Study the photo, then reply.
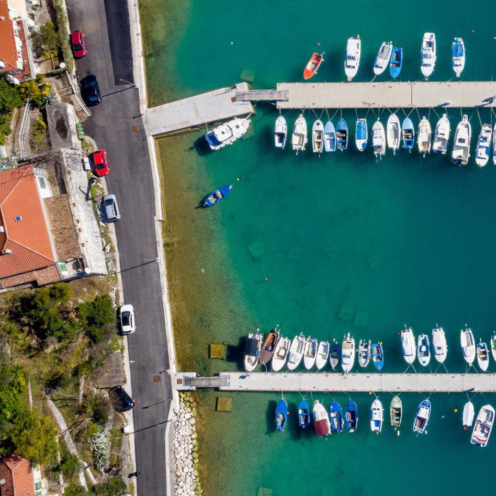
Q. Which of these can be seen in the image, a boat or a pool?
boat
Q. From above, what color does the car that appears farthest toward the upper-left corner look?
red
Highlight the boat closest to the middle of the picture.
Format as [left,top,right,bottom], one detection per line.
[172,186,231,212]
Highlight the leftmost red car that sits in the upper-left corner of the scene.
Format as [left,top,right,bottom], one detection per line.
[66,28,86,57]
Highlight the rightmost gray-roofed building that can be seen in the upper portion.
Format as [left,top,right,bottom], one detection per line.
[46,103,92,152]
